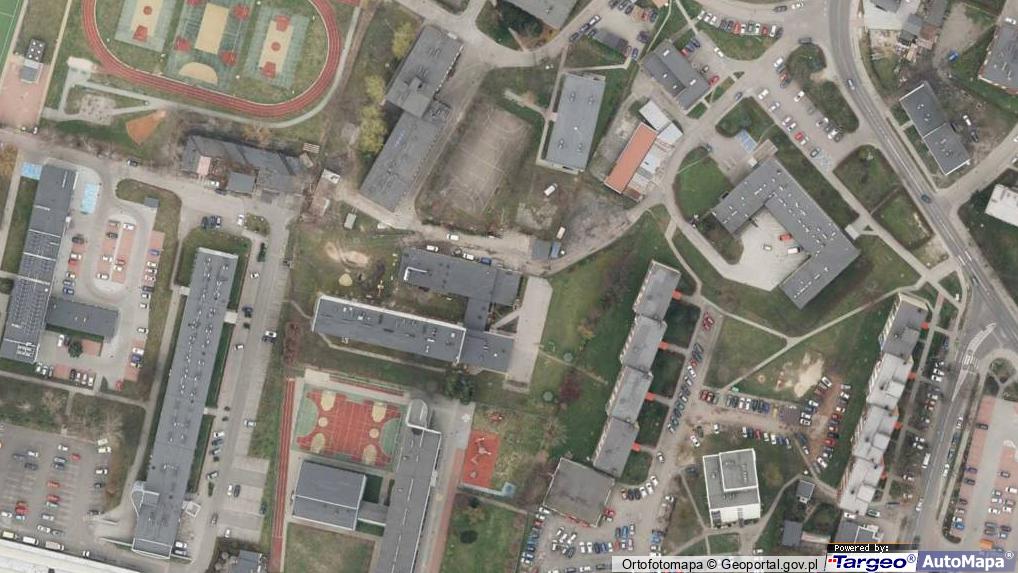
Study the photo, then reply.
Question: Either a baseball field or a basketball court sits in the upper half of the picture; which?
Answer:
basketball court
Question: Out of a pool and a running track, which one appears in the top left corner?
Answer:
running track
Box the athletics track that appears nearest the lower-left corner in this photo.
[271,378,296,573]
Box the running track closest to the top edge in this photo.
[83,0,358,115]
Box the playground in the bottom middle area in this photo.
[462,430,500,489]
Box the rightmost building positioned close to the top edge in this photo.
[975,21,1018,108]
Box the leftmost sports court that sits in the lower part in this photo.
[291,384,405,473]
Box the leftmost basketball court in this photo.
[116,0,174,51]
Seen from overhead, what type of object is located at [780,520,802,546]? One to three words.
house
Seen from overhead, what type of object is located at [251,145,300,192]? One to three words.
house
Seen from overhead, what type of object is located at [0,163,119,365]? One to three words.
building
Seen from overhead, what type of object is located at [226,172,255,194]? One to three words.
shed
